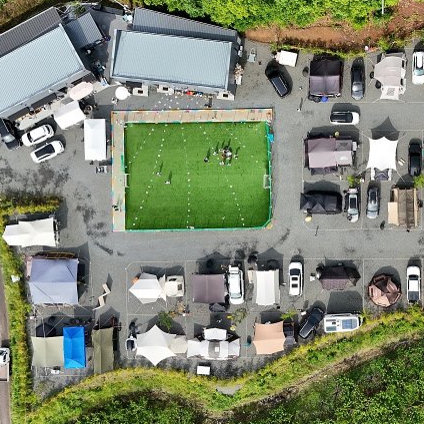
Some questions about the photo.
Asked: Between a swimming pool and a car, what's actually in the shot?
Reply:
car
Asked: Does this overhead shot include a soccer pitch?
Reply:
Yes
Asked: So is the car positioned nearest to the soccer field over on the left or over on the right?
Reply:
right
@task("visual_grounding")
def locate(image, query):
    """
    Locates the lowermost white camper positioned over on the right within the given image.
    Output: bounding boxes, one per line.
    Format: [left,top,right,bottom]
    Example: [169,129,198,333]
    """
[324,313,362,333]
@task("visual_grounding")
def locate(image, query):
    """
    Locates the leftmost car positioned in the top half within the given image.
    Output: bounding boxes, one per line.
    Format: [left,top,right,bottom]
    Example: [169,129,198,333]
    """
[0,116,23,151]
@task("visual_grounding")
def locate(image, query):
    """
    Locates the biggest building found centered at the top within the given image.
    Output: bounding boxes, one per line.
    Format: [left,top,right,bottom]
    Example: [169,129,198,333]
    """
[111,8,241,93]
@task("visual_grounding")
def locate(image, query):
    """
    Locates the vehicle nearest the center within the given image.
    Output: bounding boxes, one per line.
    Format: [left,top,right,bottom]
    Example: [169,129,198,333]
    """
[228,266,245,305]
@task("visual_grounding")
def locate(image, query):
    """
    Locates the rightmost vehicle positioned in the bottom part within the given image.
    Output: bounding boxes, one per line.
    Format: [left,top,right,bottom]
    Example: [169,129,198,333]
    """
[405,266,422,303]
